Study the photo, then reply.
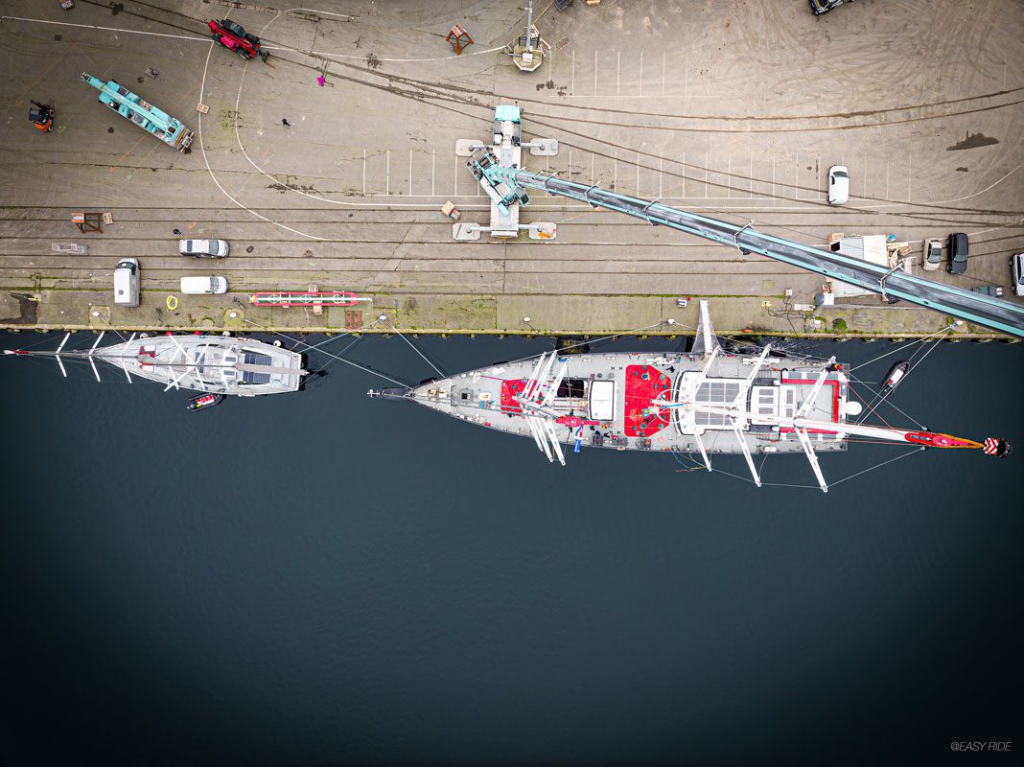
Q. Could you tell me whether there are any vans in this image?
Yes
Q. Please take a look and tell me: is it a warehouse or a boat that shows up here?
boat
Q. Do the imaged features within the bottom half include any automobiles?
No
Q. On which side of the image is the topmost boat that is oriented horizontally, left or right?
left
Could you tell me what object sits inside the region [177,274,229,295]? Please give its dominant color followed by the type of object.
white vehicle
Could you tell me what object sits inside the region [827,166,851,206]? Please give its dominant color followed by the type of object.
white car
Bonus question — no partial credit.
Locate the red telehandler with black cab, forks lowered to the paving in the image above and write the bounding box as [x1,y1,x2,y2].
[207,14,276,69]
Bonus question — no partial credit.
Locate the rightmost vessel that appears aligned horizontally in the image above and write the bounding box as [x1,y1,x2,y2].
[369,343,980,493]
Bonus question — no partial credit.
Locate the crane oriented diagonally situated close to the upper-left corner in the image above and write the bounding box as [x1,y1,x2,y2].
[78,66,196,159]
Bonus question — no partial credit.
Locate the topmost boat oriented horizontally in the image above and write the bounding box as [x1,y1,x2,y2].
[0,332,306,396]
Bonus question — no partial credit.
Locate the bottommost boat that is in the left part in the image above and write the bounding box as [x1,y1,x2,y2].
[185,392,224,413]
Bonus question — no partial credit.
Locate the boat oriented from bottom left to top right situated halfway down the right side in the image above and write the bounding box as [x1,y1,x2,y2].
[881,359,912,396]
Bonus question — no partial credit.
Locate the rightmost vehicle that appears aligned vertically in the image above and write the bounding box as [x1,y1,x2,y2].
[1004,252,1024,297]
